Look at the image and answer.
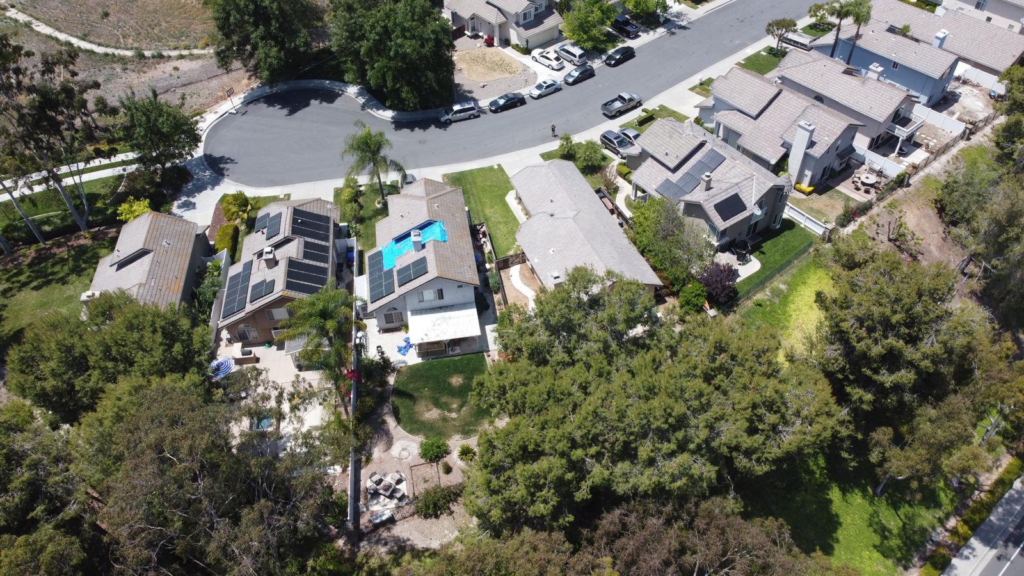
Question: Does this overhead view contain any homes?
Yes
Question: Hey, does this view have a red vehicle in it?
No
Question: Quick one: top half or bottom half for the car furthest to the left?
top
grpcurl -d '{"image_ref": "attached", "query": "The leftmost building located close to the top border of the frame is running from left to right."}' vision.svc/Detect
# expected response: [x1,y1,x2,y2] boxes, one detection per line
[444,0,561,55]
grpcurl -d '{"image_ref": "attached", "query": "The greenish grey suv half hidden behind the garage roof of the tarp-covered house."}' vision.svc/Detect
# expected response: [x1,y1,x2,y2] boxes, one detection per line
[396,160,419,194]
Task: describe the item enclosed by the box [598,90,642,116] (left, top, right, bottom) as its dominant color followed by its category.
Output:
gray truck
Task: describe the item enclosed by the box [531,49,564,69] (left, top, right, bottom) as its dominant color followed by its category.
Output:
white car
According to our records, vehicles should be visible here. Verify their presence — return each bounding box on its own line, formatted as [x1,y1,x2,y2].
[598,90,642,116]
[609,14,642,36]
[563,62,596,83]
[438,97,482,124]
[531,49,564,69]
[597,125,630,156]
[527,76,564,97]
[615,120,643,140]
[488,90,527,112]
[396,160,419,194]
[604,44,638,64]
[555,43,587,65]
